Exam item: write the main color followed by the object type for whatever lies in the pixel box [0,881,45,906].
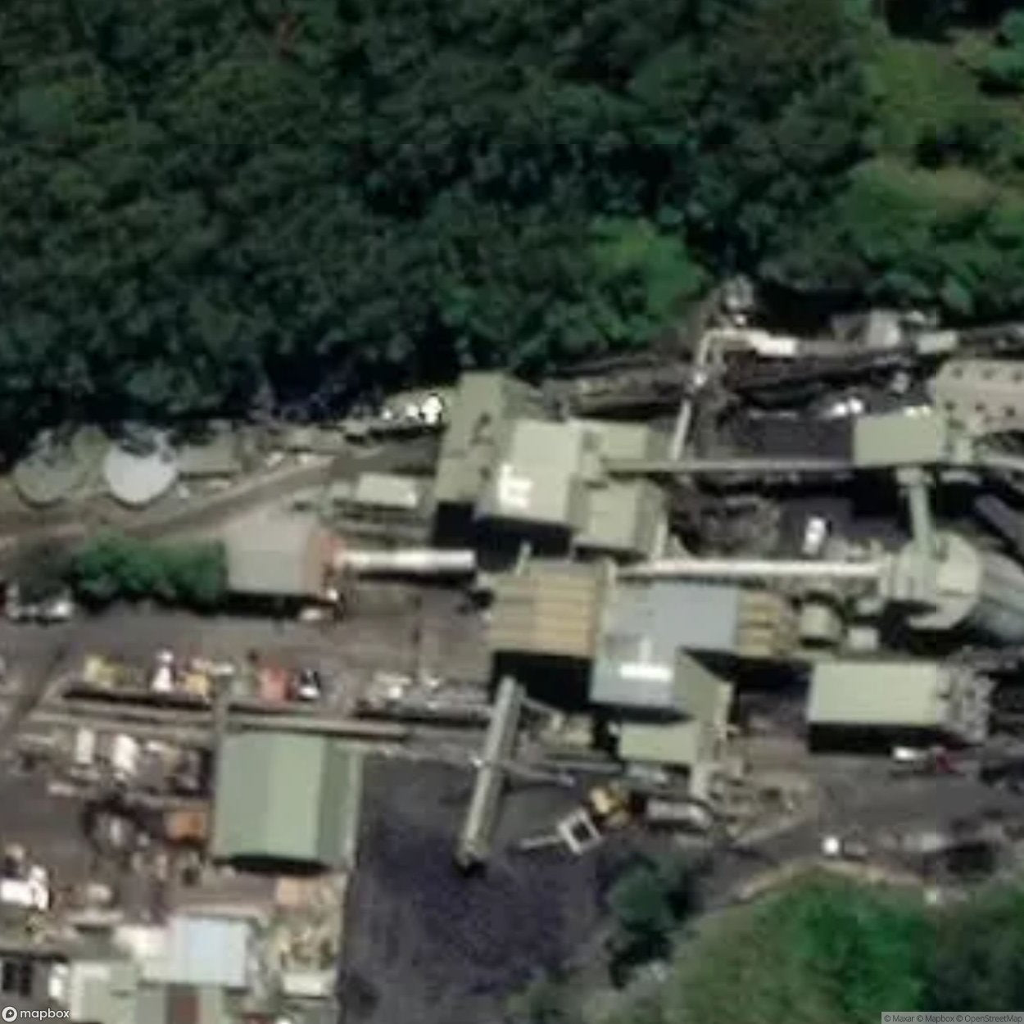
white truck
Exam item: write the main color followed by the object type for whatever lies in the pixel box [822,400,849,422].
white vehicle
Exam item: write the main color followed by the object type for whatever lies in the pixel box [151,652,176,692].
white truck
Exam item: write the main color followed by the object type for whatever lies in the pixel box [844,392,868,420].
white car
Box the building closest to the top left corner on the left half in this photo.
[177,443,245,475]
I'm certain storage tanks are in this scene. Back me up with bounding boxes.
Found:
[812,603,850,646]
[70,426,116,473]
[104,432,182,506]
[13,437,91,512]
